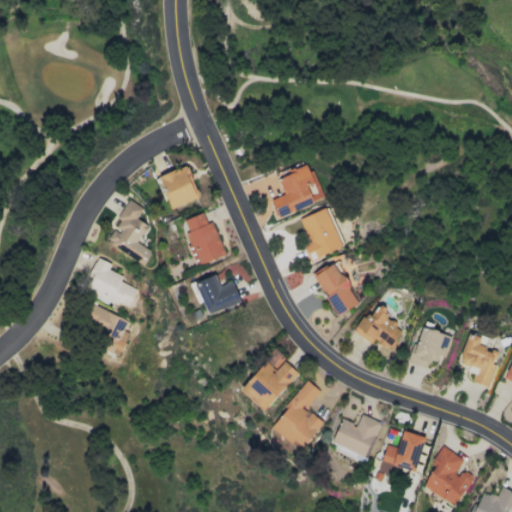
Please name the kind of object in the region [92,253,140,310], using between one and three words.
house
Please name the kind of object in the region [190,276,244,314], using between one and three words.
house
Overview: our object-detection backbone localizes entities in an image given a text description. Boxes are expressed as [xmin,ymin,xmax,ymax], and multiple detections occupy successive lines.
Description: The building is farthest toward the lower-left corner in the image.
[92,300,134,354]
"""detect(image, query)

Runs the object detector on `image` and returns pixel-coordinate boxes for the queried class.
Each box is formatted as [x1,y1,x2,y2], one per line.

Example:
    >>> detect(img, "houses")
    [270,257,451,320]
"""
[270,162,327,220]
[376,430,427,482]
[314,264,360,316]
[156,166,200,208]
[353,304,406,346]
[92,300,134,354]
[186,213,226,264]
[408,322,456,370]
[462,334,512,389]
[92,253,140,310]
[244,361,300,410]
[481,486,512,512]
[190,276,244,314]
[107,198,153,264]
[300,208,345,262]
[276,380,326,442]
[332,413,384,464]
[428,450,476,508]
